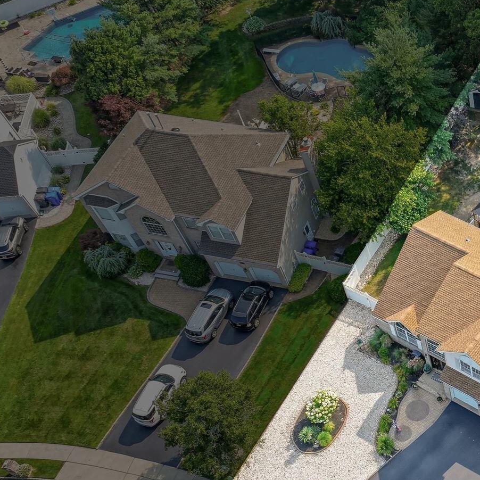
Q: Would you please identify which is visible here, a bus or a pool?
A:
pool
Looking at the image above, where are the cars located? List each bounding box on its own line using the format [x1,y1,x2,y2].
[184,285,239,347]
[0,213,34,263]
[231,276,275,335]
[129,361,189,429]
